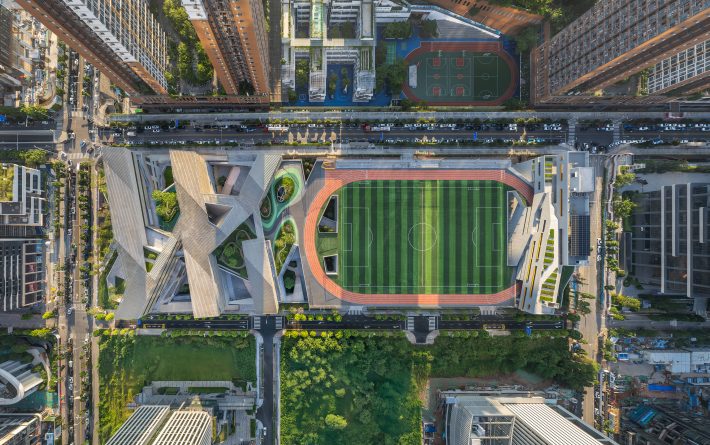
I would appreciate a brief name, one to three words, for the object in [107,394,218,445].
building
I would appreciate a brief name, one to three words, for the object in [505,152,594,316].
building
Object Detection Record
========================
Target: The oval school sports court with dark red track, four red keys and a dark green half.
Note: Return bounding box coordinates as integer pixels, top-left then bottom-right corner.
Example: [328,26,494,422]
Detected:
[404,41,519,106]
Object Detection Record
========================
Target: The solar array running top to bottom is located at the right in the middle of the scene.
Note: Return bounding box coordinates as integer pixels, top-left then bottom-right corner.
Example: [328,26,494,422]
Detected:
[571,216,589,256]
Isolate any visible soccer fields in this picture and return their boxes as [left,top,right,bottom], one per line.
[316,179,528,293]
